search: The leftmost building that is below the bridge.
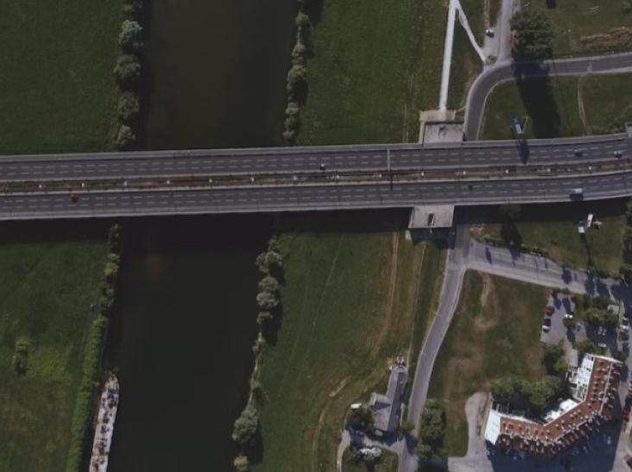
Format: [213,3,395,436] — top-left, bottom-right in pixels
[368,361,408,436]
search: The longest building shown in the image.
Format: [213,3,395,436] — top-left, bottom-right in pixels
[487,353,623,456]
